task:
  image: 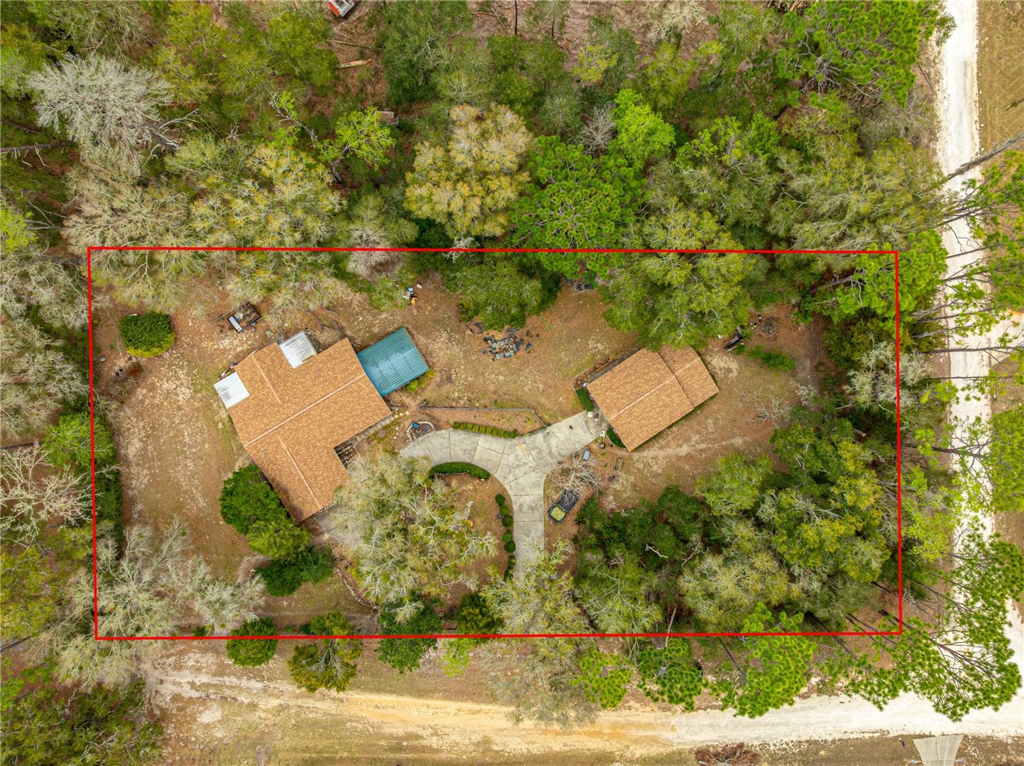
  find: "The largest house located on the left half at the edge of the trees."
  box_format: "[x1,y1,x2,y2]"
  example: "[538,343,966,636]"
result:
[228,339,390,521]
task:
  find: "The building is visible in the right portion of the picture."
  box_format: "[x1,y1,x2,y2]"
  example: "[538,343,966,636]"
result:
[585,337,719,452]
